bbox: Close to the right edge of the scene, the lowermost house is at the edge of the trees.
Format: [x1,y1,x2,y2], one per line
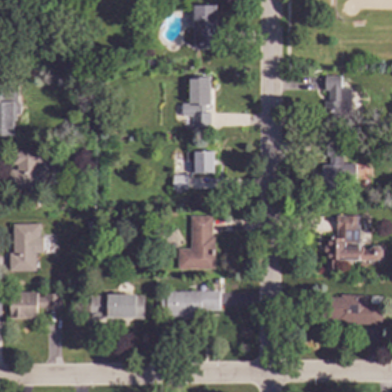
[332,296,386,326]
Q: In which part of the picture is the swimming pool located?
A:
top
